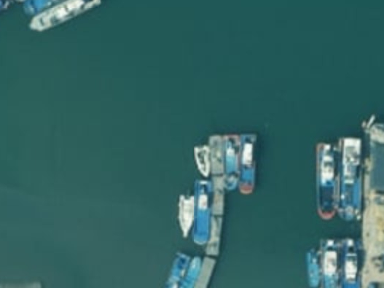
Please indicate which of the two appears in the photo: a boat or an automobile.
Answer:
boat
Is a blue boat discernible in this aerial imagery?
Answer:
Yes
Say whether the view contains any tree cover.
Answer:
No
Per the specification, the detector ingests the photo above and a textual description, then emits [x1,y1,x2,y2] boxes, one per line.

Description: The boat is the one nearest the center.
[193,146,210,178]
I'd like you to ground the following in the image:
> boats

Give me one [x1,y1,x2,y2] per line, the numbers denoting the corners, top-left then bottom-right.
[193,146,210,178]
[315,143,337,220]
[181,256,201,288]
[303,250,319,287]
[177,192,194,238]
[160,250,189,288]
[194,179,214,244]
[31,0,105,30]
[319,242,341,288]
[336,139,361,221]
[224,134,241,191]
[340,242,364,288]
[240,134,258,195]
[24,0,60,13]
